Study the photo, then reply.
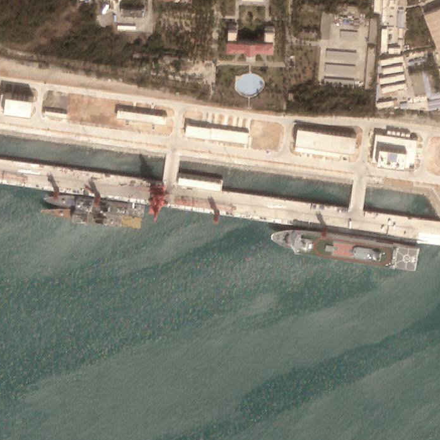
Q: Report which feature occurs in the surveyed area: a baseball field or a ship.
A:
ship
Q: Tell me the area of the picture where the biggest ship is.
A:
right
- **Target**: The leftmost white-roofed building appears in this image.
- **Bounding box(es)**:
[3,93,34,118]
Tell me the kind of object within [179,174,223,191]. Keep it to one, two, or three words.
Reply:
shed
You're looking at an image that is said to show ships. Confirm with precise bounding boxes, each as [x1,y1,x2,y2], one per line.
[42,207,143,228]
[44,193,144,217]
[271,221,420,270]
